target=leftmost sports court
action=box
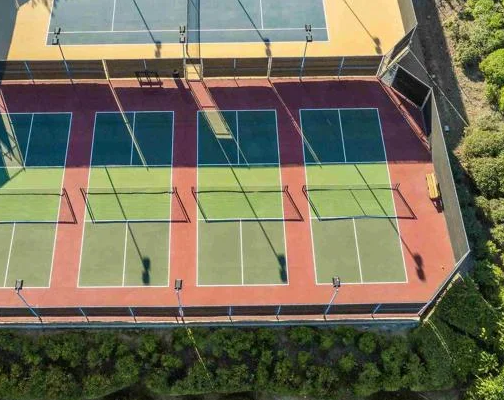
[0,113,72,288]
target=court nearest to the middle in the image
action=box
[197,110,289,285]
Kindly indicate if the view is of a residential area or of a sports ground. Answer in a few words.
sports ground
